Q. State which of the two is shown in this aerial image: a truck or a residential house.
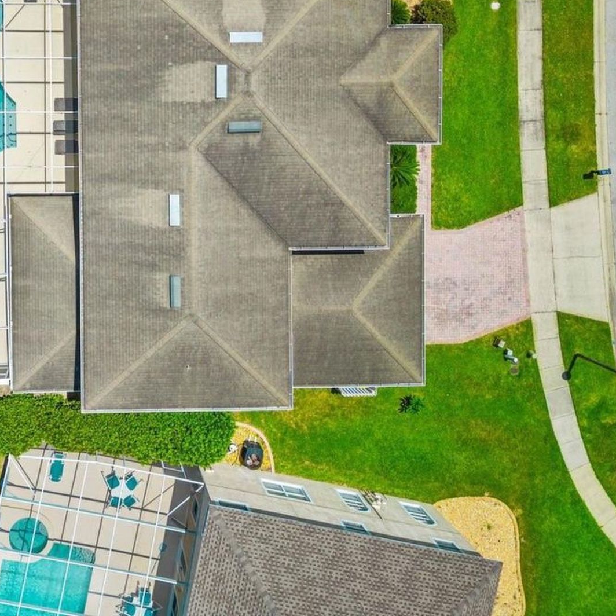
residential house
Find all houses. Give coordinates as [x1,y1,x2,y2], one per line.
[8,0,445,416]
[177,464,504,616]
